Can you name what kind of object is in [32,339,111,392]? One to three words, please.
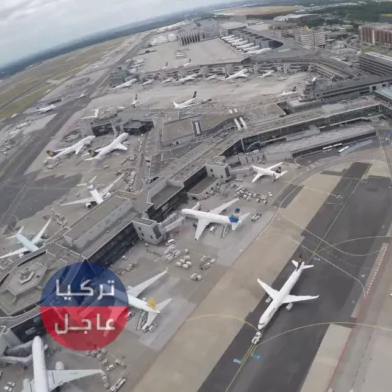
airplane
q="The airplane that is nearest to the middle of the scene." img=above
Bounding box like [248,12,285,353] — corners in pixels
[182,198,248,237]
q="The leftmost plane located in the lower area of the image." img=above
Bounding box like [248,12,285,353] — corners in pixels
[0,219,56,258]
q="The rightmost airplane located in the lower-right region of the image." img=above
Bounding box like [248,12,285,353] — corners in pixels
[257,258,319,339]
